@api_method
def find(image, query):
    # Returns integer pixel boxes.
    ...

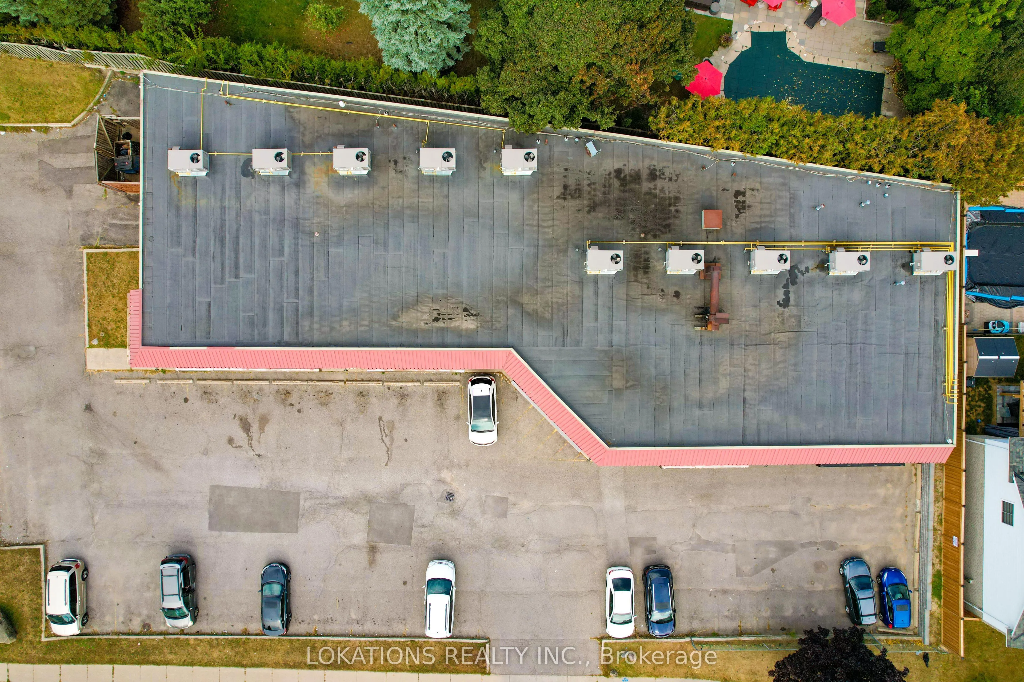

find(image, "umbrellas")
[822,0,856,25]
[685,63,723,97]
[755,0,789,11]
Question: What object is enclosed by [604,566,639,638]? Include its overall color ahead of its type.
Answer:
white car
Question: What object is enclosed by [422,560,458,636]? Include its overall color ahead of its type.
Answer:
white car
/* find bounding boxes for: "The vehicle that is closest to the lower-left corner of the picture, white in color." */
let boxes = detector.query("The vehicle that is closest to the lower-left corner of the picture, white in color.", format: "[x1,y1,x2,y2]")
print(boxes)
[41,558,88,637]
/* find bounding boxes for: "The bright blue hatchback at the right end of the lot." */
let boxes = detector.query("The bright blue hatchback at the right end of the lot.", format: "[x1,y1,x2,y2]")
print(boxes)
[877,567,916,628]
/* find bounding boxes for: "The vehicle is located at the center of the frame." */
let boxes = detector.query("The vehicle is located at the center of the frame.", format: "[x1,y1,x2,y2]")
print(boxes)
[464,374,500,447]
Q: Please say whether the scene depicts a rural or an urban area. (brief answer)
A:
urban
